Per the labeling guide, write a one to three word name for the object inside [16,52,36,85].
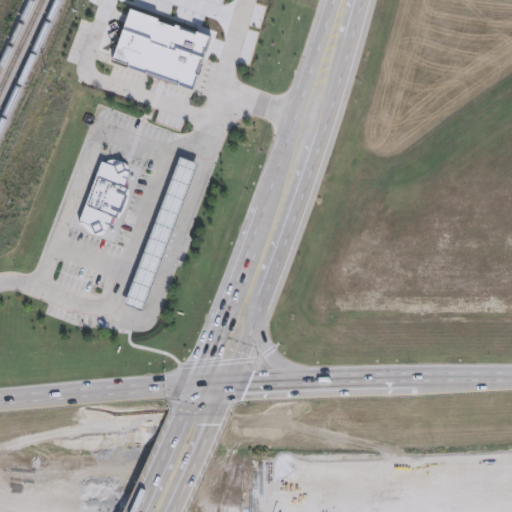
rail car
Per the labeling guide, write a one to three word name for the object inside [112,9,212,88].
building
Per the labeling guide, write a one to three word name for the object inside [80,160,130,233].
building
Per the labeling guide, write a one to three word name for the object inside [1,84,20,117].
rail car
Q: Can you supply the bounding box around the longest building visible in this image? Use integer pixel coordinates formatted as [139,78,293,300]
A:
[124,157,198,311]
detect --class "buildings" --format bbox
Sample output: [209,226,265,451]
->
[112,9,212,88]
[124,157,198,311]
[80,160,130,233]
